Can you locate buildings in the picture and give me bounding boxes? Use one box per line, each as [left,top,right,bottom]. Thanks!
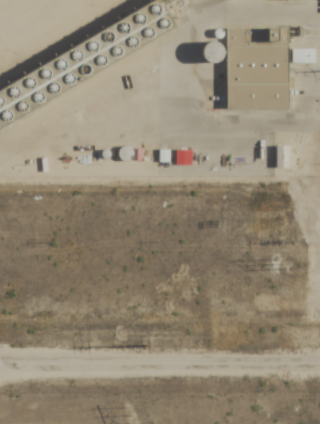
[276,145,290,168]
[226,27,290,108]
[292,48,316,62]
